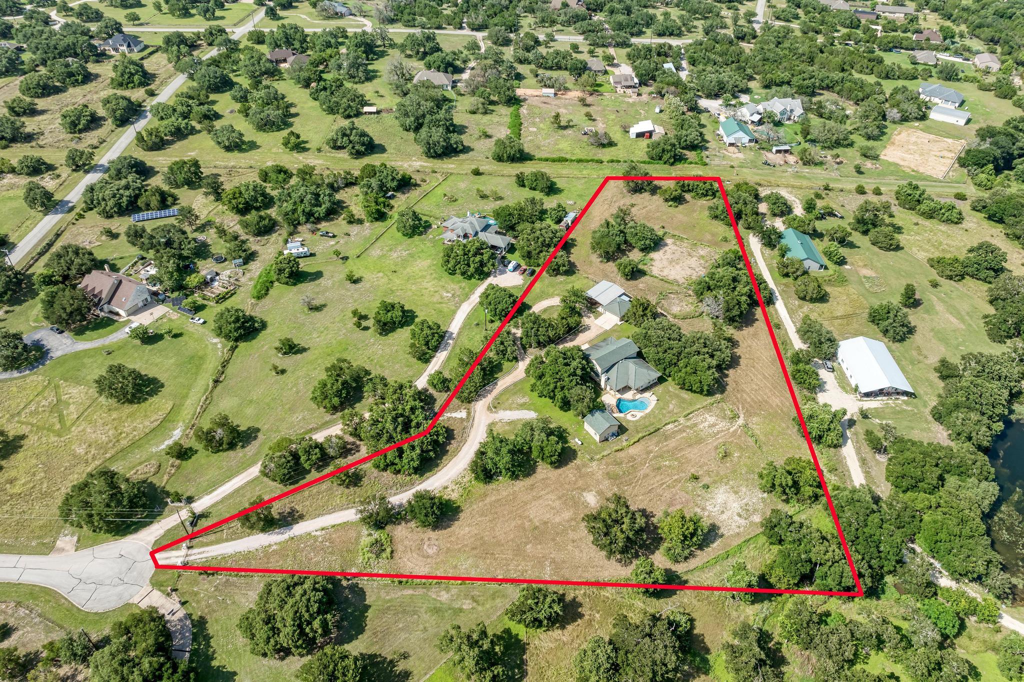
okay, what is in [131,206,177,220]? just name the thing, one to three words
solar array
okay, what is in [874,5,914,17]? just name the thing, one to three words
house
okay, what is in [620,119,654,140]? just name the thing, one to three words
shed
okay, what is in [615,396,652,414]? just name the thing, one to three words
swimming pool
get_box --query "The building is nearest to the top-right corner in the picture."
[974,54,1000,71]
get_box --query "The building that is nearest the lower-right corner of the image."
[835,338,920,412]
